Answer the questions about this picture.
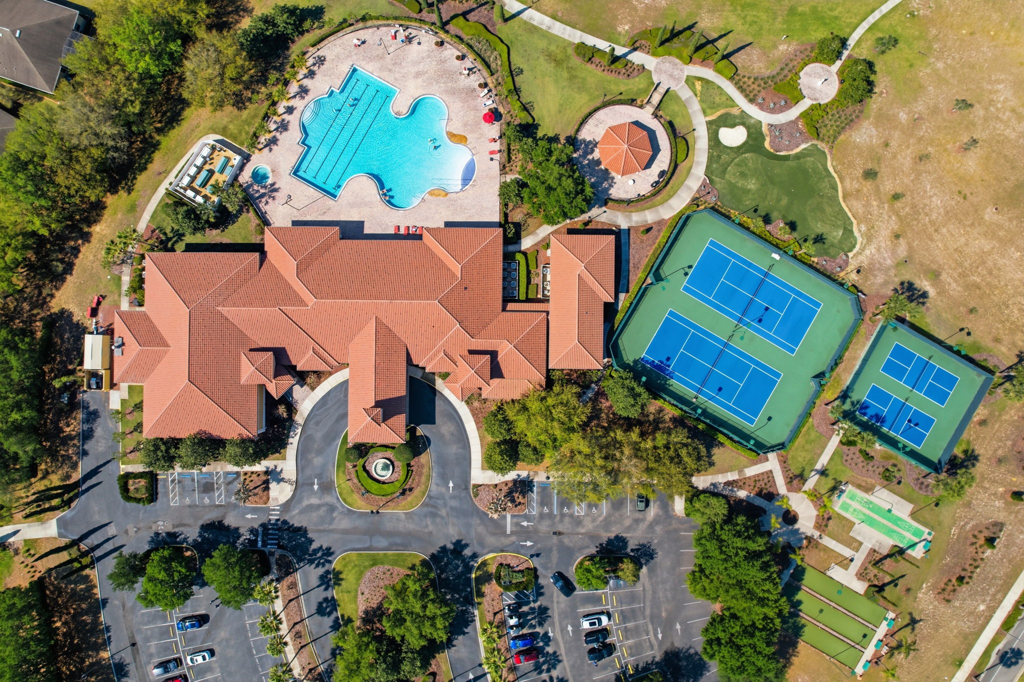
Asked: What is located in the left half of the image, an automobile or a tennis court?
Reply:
automobile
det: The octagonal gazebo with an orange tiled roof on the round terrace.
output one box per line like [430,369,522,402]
[597,121,653,179]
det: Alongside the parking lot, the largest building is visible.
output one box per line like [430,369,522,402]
[112,226,549,444]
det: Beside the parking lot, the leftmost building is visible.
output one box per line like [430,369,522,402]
[85,335,111,393]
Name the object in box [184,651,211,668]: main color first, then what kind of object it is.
white car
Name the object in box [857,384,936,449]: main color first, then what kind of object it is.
blue sports court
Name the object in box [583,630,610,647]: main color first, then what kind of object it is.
black car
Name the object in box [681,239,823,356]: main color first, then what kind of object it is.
blue tennis court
